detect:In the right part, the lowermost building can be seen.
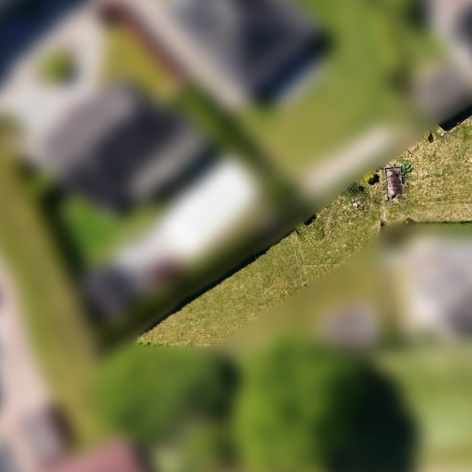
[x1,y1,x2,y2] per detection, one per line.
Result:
[326,299,376,345]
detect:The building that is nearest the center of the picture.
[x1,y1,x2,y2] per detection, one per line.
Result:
[153,159,257,255]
